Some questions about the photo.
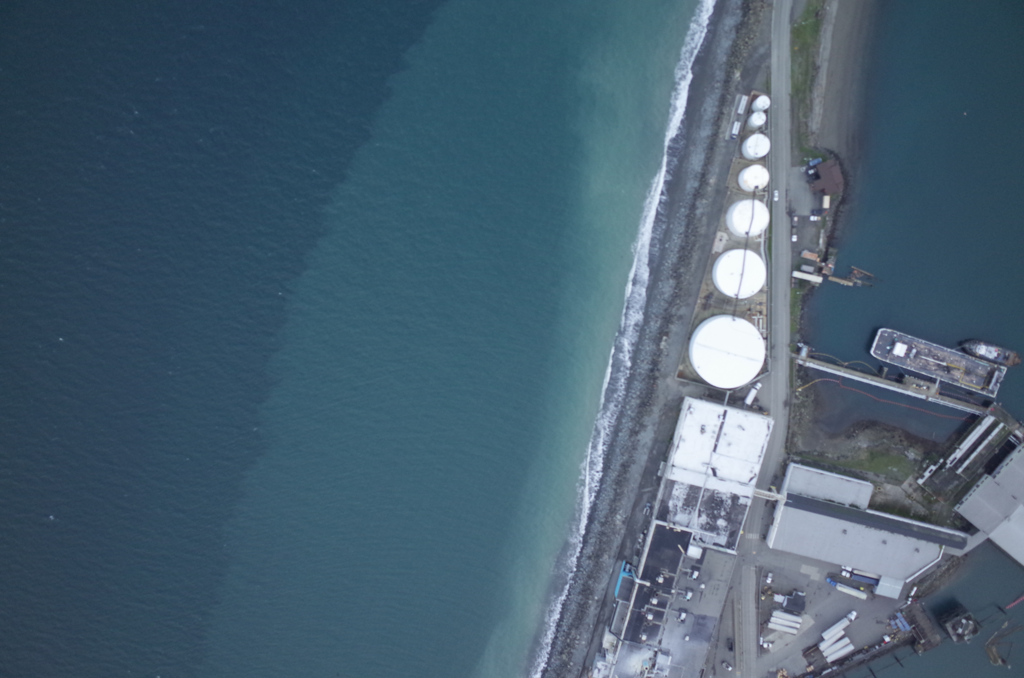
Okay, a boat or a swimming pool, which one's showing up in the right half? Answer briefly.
boat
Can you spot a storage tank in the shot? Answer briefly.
Yes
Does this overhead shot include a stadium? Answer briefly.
No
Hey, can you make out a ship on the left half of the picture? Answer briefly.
No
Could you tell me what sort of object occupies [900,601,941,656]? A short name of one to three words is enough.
pier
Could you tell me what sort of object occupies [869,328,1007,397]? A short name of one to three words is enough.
ship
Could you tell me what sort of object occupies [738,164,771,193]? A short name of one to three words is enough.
storage tank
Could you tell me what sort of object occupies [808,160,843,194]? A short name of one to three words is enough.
house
